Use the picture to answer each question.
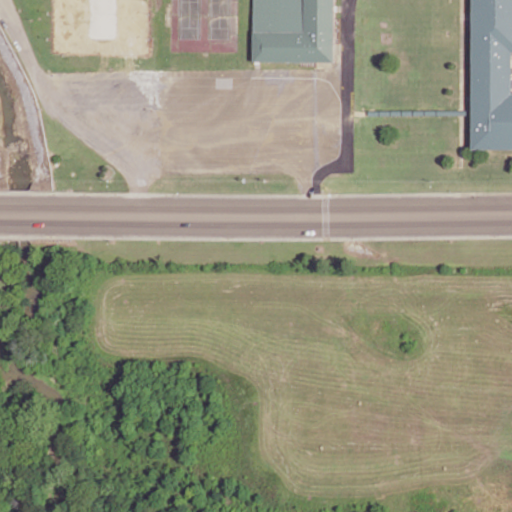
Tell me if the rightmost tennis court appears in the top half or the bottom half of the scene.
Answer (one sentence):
The top half of the photo is where the rightmost tennis court is.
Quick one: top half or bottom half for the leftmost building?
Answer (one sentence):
The top half of the photo is where the leftmost building is.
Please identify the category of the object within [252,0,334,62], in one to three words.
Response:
building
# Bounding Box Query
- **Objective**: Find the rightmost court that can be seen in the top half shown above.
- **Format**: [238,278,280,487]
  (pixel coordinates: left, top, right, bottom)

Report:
[206,0,238,52]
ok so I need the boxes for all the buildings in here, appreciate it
[252,0,334,62]
[470,0,512,150]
